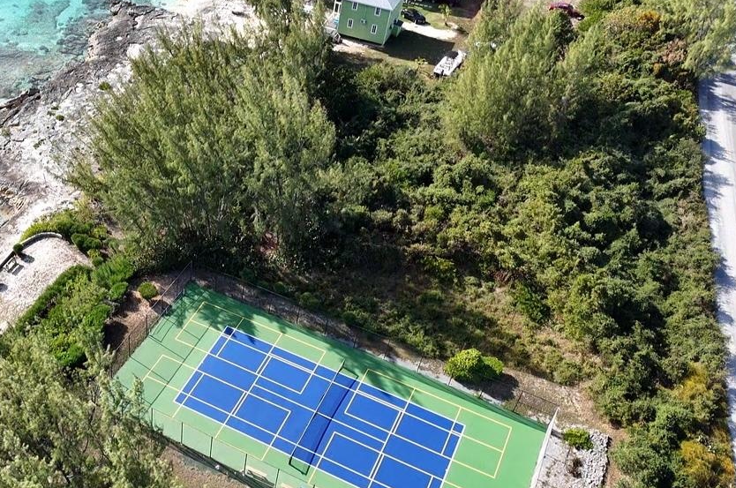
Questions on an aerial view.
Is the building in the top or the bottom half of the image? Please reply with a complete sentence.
The top half of the photo is where the building is.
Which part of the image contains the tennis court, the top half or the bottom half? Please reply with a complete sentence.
The bottom half of the photo is where the tennis court is.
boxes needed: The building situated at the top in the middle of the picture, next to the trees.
[322,0,409,46]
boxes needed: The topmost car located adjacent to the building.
[403,8,428,24]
